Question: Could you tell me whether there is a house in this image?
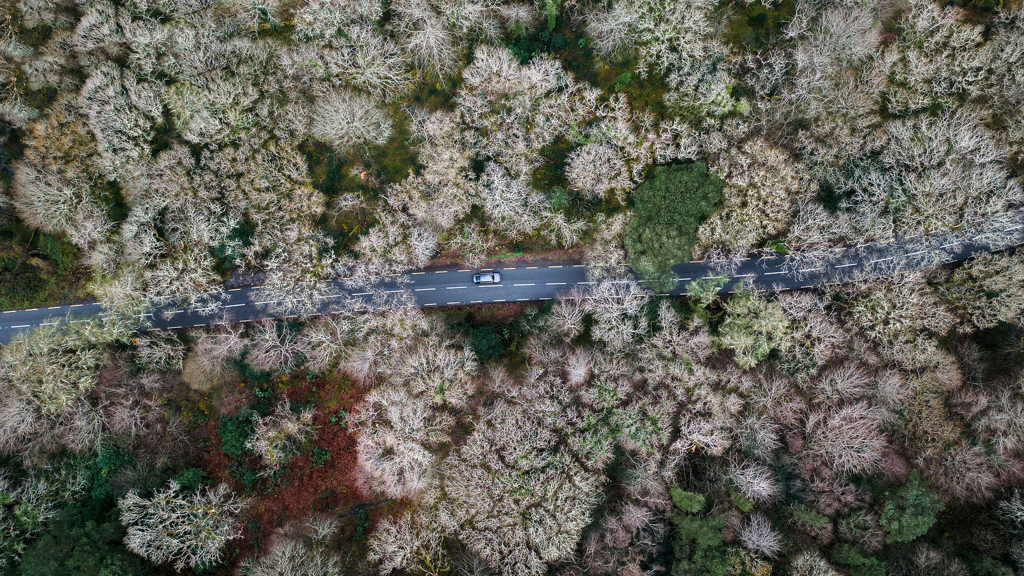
No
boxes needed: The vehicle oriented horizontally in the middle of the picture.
[473,272,501,284]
